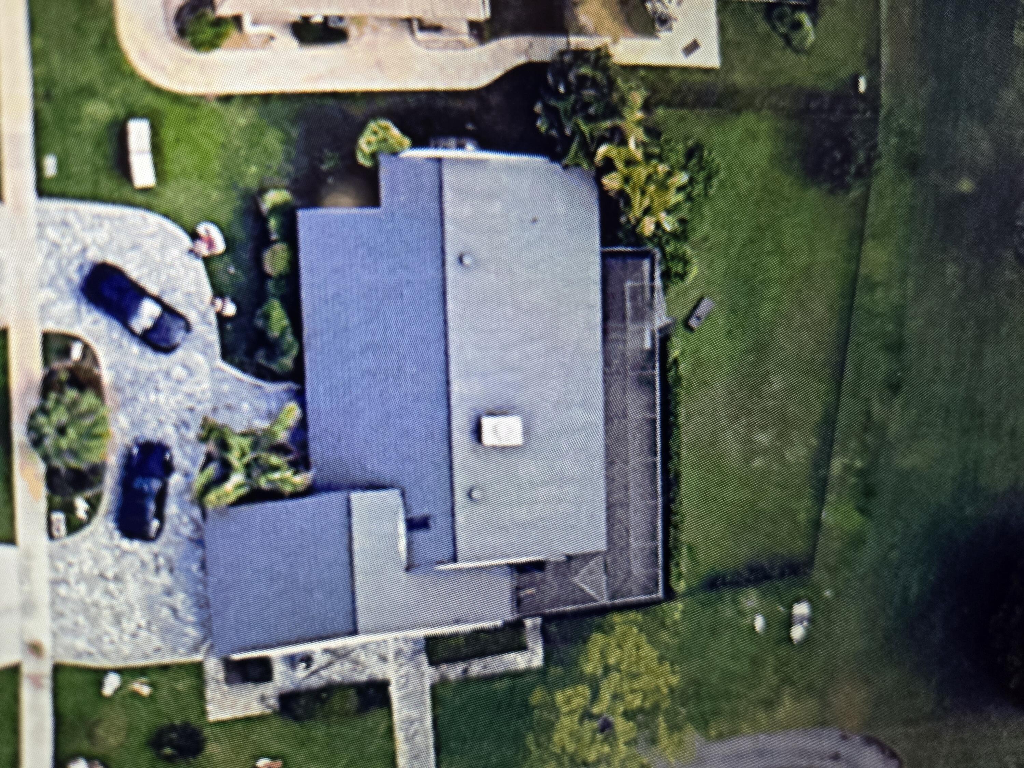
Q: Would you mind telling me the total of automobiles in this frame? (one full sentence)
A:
The photo contains 2 automobiles.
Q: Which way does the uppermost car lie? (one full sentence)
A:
In this picture, the uppermost car is oriented on a diagonal.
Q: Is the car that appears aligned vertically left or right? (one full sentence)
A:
It is on the left.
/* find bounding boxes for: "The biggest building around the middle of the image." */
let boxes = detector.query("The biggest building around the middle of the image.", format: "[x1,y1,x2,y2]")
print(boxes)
[206,152,607,663]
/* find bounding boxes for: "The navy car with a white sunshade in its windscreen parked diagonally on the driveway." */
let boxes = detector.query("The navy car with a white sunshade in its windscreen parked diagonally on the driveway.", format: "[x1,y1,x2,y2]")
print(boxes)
[77,255,196,353]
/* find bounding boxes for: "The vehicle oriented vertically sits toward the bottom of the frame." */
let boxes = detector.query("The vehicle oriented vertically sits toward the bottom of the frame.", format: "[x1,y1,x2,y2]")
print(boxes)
[118,440,173,545]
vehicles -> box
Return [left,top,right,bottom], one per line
[77,255,196,353]
[118,440,173,545]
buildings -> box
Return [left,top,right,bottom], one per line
[218,0,495,48]
[206,152,607,663]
